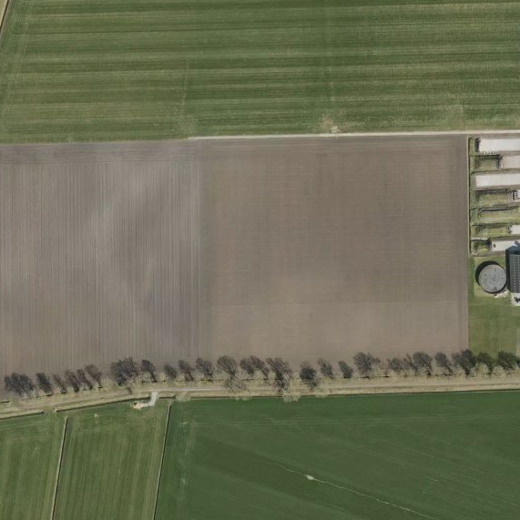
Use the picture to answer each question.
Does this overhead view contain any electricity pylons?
No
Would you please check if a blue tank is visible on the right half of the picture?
No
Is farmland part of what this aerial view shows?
Yes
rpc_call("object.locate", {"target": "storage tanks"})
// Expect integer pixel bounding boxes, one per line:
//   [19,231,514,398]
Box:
[478,265,506,295]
